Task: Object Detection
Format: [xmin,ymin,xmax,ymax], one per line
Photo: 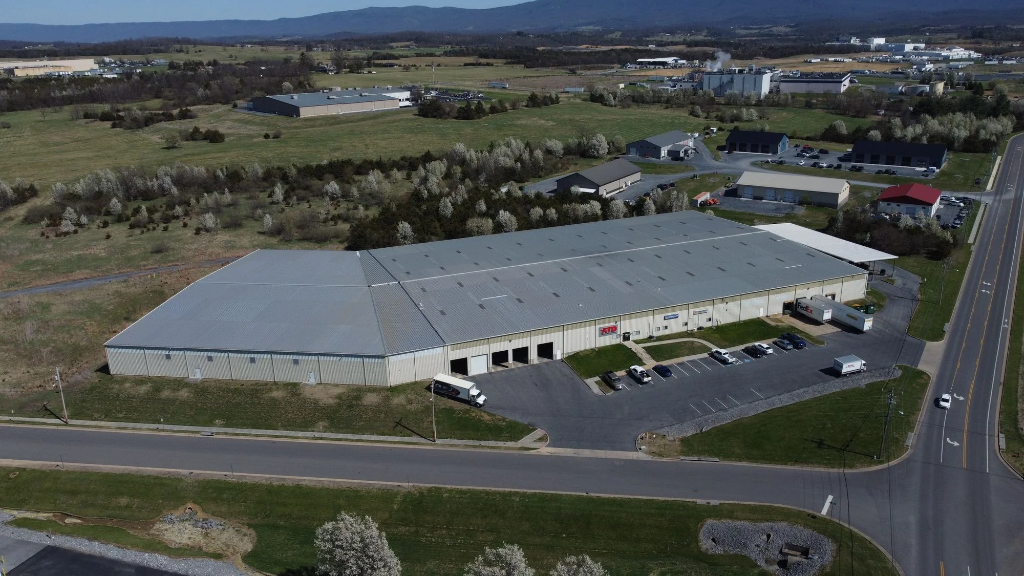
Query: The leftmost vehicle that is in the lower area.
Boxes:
[431,378,485,411]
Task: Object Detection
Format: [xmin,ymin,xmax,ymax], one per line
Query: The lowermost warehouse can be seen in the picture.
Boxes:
[104,210,869,386]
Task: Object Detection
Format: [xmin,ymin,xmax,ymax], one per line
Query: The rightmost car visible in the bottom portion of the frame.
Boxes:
[938,391,952,409]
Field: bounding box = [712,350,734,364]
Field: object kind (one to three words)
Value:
vehicle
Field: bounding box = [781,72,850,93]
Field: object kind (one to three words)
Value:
building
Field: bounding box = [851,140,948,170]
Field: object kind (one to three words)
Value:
shed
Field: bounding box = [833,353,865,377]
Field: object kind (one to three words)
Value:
truck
